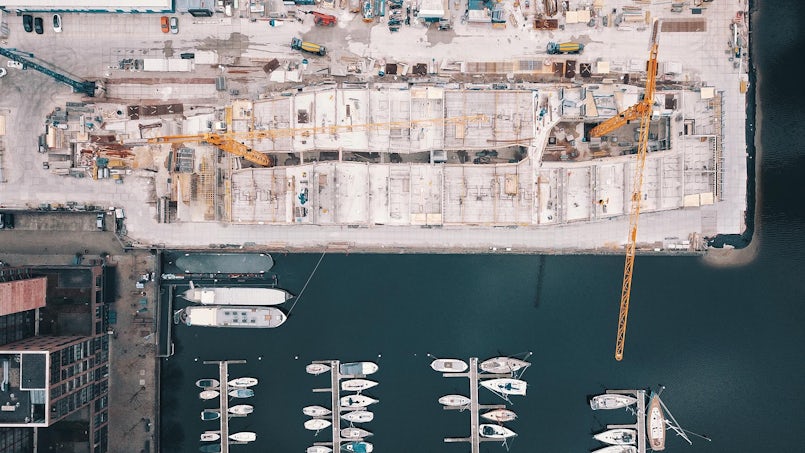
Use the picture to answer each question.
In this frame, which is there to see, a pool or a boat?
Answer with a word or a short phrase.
boat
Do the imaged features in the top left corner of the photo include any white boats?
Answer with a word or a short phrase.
No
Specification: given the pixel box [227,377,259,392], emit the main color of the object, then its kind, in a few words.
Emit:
white boat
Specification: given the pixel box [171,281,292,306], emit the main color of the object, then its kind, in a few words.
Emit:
white ship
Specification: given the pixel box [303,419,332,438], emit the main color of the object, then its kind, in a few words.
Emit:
white boat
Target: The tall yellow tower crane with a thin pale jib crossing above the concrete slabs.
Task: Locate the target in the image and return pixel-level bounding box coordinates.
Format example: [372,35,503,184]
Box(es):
[145,114,490,165]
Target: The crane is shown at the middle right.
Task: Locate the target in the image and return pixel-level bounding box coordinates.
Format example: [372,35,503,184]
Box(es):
[579,20,662,362]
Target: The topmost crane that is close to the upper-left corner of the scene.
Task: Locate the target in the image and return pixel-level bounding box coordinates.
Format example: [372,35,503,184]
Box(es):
[0,38,107,100]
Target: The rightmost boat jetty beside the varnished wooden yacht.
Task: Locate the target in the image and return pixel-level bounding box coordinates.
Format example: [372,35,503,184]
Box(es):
[605,388,649,453]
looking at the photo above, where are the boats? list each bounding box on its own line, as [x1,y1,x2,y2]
[340,392,380,414]
[479,378,528,405]
[199,389,219,403]
[227,377,259,392]
[228,431,257,449]
[199,443,220,453]
[588,393,638,418]
[439,394,472,413]
[340,411,374,432]
[480,408,518,431]
[340,440,374,453]
[338,361,379,376]
[200,432,220,442]
[175,307,286,329]
[200,411,220,421]
[306,363,331,378]
[430,357,469,372]
[478,424,518,449]
[227,404,255,421]
[340,427,375,448]
[645,390,688,451]
[479,357,531,381]
[307,445,333,453]
[303,406,332,424]
[197,378,220,387]
[592,428,638,453]
[341,378,379,398]
[228,389,255,399]
[303,419,332,438]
